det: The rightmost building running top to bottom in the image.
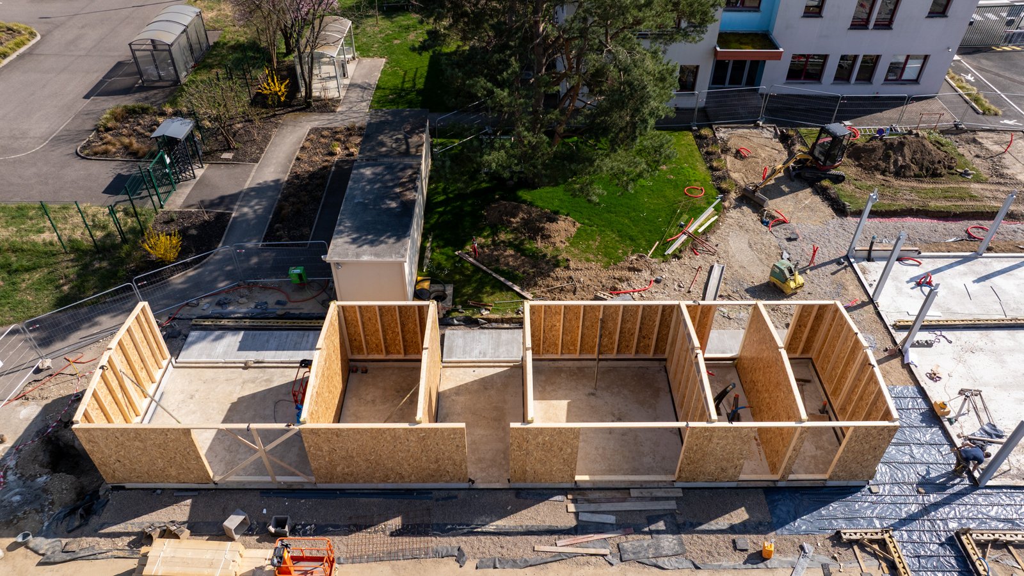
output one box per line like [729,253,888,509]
[325,107,432,302]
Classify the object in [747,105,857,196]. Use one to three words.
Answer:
work vehicle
